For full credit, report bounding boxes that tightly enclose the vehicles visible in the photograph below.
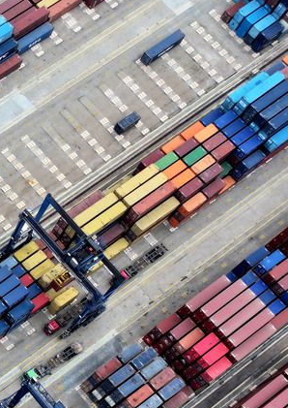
[43,293,93,334]
[124,239,171,276]
[22,340,78,382]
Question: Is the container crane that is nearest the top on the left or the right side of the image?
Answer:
left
